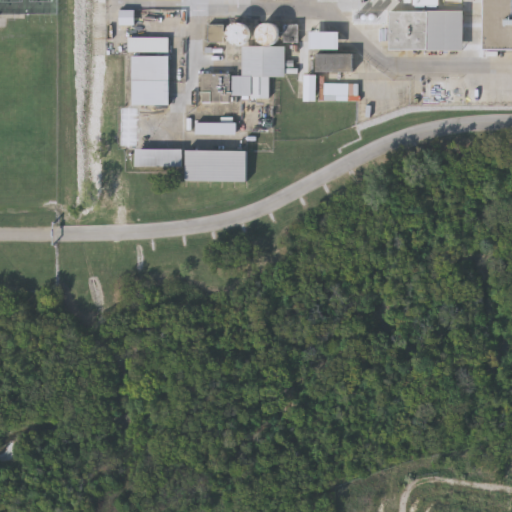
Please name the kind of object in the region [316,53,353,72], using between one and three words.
shed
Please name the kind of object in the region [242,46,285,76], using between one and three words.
building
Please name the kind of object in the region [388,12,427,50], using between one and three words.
building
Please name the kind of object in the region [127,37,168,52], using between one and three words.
shed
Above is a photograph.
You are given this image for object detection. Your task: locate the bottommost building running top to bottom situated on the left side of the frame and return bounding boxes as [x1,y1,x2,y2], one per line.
[120,108,138,148]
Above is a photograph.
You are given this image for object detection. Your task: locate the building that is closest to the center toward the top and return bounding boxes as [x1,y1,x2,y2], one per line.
[183,150,246,182]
